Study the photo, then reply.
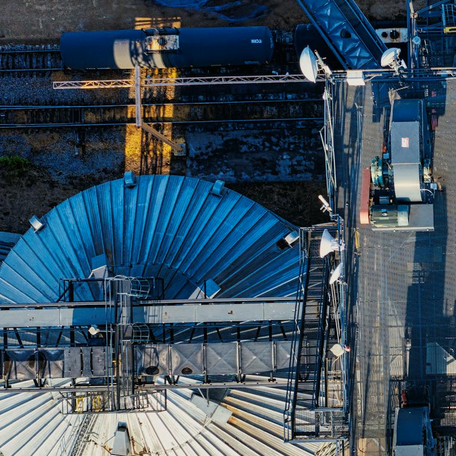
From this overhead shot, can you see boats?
No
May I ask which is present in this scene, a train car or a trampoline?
train car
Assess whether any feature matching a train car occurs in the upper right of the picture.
Yes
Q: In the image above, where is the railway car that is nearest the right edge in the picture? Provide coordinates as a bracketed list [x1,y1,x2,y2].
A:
[291,19,454,67]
